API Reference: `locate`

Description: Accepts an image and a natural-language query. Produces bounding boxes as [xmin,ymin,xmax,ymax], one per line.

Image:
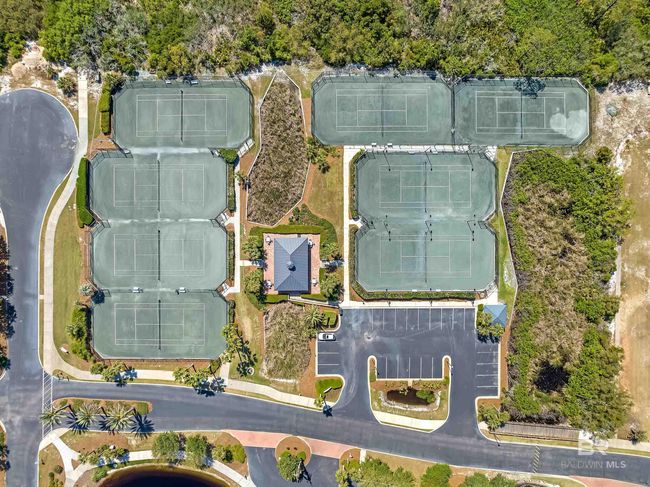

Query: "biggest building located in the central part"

[274,237,308,291]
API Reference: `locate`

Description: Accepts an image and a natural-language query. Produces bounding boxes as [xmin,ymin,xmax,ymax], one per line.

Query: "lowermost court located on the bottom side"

[93,291,228,359]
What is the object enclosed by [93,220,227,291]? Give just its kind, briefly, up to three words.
tennis court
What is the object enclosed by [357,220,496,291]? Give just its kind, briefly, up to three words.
tennis court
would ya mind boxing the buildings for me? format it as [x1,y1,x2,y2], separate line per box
[482,305,507,327]
[274,237,308,291]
